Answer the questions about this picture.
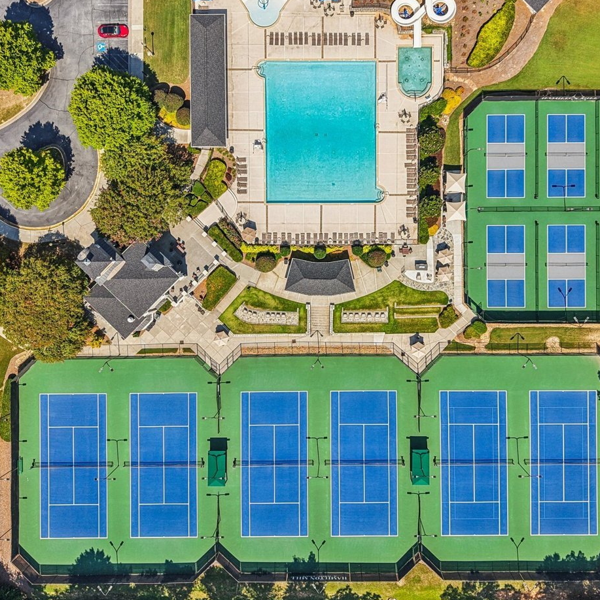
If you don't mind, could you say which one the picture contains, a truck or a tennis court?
tennis court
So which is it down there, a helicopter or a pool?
pool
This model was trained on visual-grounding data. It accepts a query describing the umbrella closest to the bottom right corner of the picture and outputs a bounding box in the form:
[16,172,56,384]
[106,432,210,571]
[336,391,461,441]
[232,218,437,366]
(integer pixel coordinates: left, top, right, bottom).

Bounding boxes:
[411,339,427,356]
